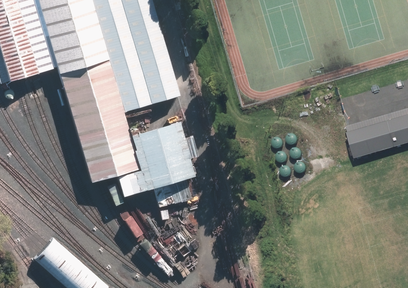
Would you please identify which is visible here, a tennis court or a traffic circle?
tennis court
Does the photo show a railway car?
Yes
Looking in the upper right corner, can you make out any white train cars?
No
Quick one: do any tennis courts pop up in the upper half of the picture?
Yes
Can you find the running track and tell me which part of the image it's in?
top right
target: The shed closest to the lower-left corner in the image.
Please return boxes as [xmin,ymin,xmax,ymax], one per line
[37,238,108,288]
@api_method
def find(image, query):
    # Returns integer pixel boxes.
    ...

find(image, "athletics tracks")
[215,0,408,100]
